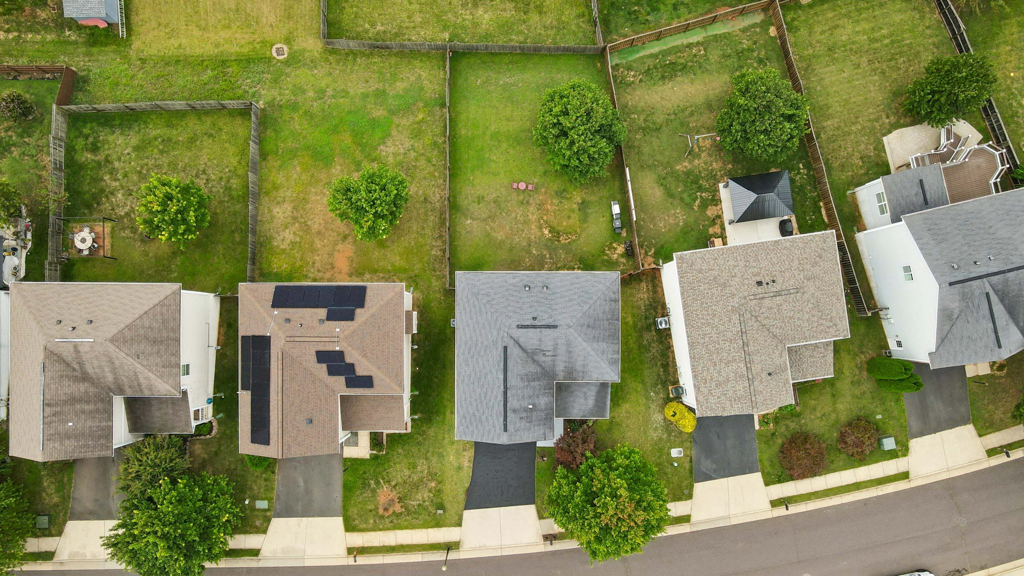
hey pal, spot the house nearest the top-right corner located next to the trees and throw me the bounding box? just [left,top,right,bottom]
[853,162,1024,371]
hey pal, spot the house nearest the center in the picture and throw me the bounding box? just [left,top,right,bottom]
[454,271,621,446]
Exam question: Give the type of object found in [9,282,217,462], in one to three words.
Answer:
house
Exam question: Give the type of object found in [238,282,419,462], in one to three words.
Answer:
house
